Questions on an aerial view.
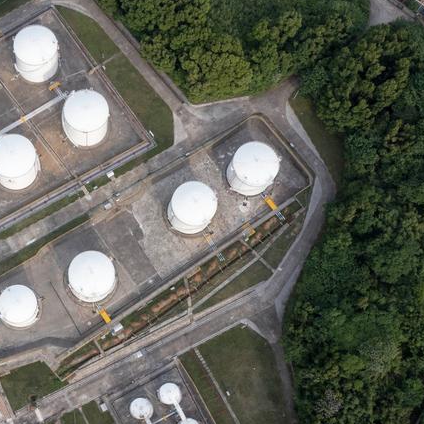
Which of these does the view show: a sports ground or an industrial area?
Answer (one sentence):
This image shows an industrial area.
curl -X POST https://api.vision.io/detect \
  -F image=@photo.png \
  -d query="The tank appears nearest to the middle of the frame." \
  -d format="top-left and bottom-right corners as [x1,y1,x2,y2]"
[163,180,219,238]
